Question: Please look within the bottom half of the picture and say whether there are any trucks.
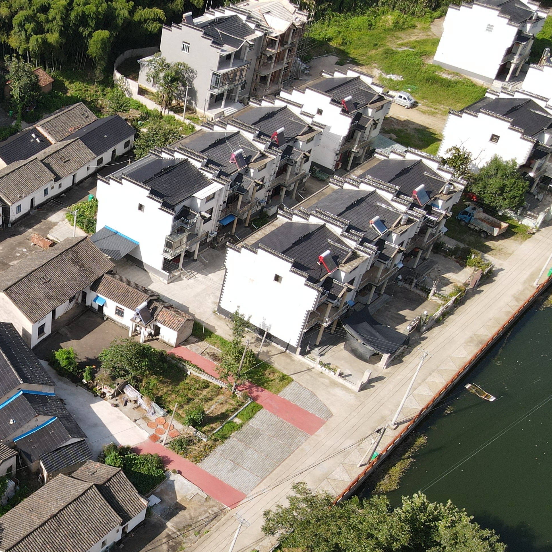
No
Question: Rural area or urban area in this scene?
urban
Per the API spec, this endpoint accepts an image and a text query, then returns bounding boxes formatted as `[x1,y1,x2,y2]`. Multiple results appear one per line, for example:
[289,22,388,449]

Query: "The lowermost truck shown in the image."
[455,204,510,235]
